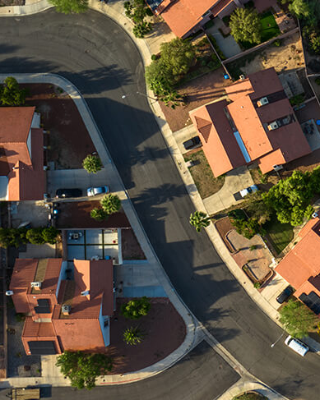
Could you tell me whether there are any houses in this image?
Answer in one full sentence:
Yes, looking at the shot, I can spot a house.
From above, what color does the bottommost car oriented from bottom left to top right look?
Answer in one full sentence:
From above, the bottommost car oriented from bottom left to top right appears black.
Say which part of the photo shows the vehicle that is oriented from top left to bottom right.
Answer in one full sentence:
Look in the bottom right portion of the view to spot the vehicle that is oriented from top left to bottom right.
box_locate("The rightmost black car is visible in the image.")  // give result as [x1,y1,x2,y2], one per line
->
[274,284,295,305]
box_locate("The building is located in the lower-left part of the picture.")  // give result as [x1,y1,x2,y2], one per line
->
[5,258,119,356]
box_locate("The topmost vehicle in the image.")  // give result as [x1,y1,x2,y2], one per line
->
[179,134,202,151]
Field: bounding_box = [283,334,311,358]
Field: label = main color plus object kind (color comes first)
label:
white vehicle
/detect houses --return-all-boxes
[275,210,320,317]
[0,107,52,201]
[189,67,312,178]
[5,258,119,356]
[146,0,246,38]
